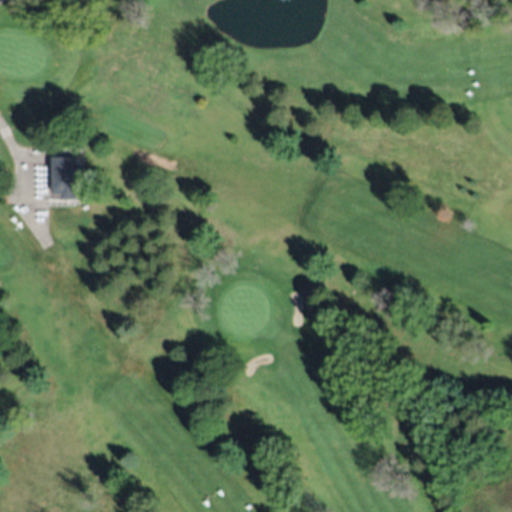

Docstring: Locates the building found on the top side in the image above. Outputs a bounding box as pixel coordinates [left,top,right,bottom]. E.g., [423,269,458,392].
[50,156,80,205]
